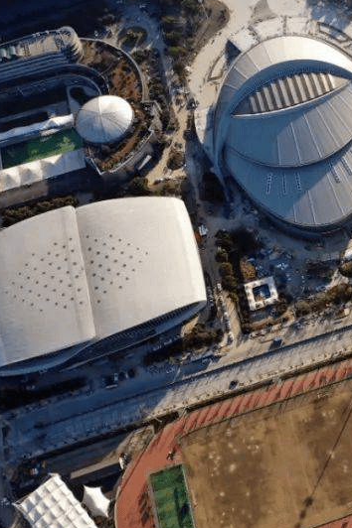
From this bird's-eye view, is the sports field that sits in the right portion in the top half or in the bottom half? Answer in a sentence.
Seen from above, the sports field that sits in the right portion lies in the bottom half of the view.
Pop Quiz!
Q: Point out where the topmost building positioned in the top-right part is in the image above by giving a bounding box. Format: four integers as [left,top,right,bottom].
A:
[211,34,352,244]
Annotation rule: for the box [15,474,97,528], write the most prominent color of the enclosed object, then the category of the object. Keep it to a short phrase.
white tent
